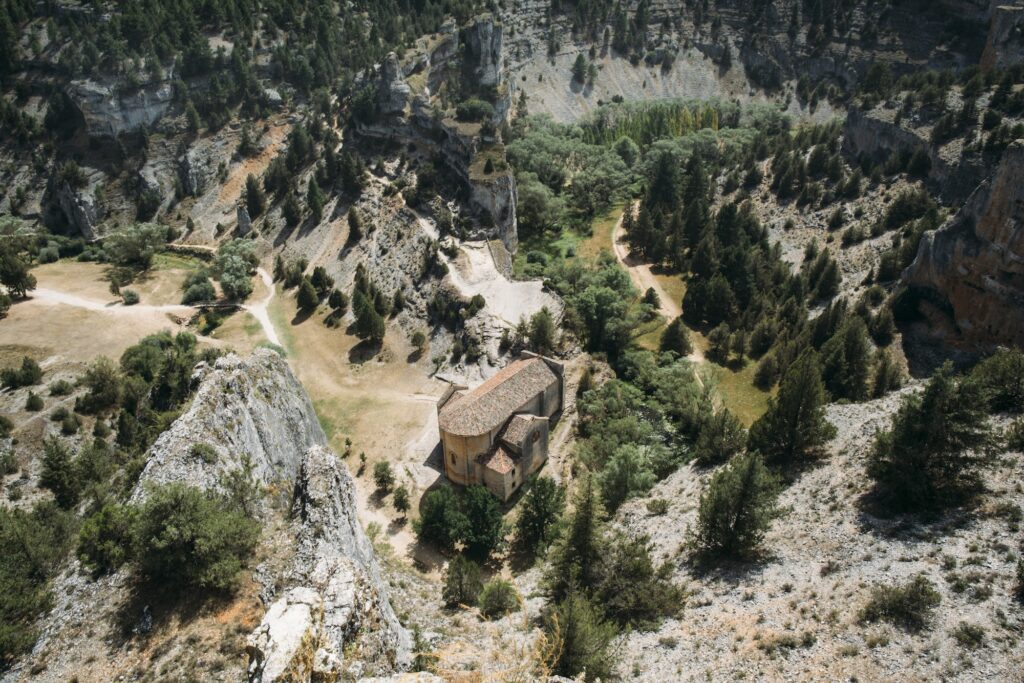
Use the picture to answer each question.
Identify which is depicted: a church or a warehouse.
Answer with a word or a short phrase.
church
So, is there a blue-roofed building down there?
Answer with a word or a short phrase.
No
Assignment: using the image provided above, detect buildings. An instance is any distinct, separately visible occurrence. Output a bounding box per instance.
[435,346,567,501]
